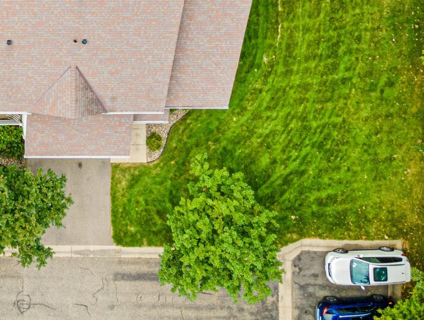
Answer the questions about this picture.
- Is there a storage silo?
No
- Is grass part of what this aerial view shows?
Yes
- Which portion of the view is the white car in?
bottom right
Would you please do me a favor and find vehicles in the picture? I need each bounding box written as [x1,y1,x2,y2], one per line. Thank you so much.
[314,290,407,320]
[321,243,415,290]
